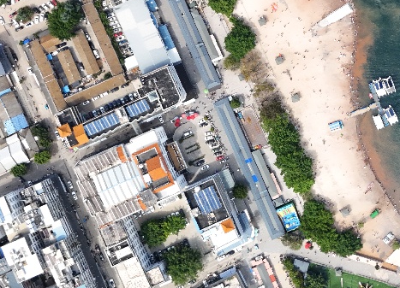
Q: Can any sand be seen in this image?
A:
Yes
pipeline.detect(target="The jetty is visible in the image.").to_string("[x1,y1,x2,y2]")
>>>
[349,83,389,126]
